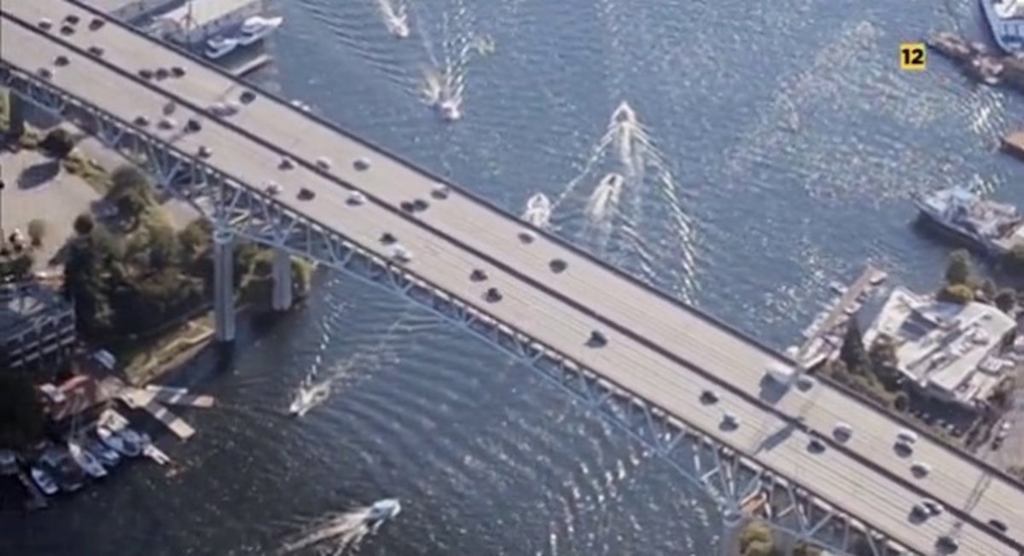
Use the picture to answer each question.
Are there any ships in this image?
Yes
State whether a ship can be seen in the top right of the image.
Yes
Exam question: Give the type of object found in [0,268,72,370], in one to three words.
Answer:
building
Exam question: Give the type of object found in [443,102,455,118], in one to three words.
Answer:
boat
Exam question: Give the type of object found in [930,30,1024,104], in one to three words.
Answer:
ship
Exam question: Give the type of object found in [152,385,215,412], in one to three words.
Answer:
pier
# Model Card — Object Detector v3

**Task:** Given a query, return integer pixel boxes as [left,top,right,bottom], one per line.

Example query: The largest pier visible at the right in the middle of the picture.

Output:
[801,265,876,367]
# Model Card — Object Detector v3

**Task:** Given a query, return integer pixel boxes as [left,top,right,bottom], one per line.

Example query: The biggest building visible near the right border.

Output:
[863,287,1013,407]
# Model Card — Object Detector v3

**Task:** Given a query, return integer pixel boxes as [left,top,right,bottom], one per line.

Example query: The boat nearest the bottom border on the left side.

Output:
[365,499,399,521]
